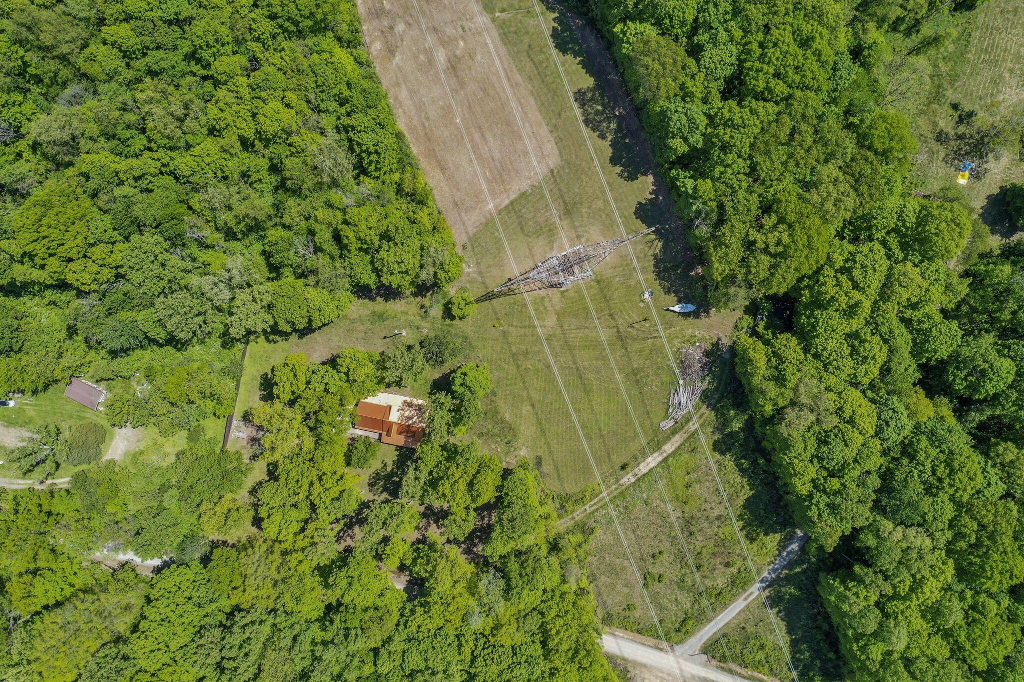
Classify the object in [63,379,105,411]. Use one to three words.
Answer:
building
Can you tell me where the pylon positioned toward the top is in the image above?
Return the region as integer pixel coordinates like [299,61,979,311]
[493,228,656,293]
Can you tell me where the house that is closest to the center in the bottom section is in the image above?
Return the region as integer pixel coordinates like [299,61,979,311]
[354,392,428,449]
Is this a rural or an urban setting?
rural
